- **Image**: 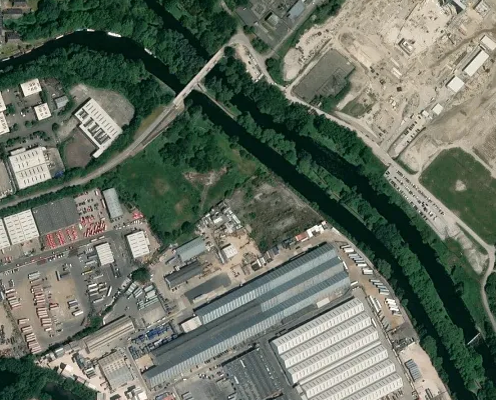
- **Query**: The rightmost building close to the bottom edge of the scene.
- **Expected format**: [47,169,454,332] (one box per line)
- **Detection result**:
[272,297,405,400]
